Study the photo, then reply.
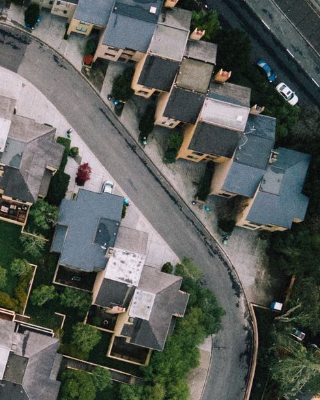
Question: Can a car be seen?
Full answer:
Yes, you can see a car in this photo.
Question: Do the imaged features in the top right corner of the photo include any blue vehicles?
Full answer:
Yes, I can see a blue vehicle in the top right corner of the photo.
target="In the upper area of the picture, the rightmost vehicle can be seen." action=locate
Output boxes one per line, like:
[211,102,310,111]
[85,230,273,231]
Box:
[275,80,299,108]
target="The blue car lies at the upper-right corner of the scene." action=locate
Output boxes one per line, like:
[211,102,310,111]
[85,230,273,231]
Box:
[256,57,277,82]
